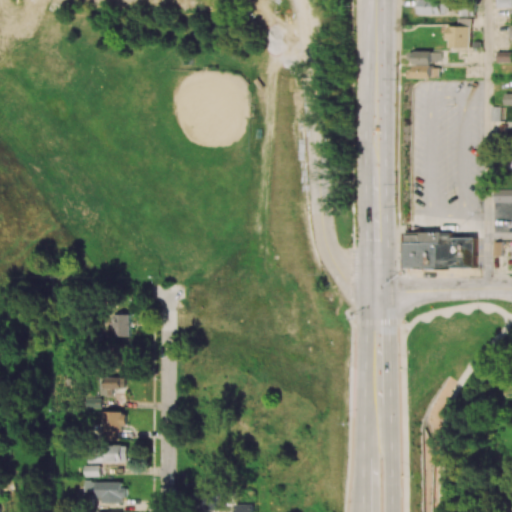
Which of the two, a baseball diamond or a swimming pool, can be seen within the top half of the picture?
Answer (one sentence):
Looking within the top half of the picture, you will find a baseball diamond.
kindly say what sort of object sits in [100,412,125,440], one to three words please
house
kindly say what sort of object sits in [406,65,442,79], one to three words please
house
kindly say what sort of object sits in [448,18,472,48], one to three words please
building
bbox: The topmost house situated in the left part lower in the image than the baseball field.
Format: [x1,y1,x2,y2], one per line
[110,314,129,338]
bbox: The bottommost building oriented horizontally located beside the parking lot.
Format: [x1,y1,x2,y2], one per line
[402,232,478,268]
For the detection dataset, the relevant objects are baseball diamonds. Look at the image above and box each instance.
[116,68,257,205]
